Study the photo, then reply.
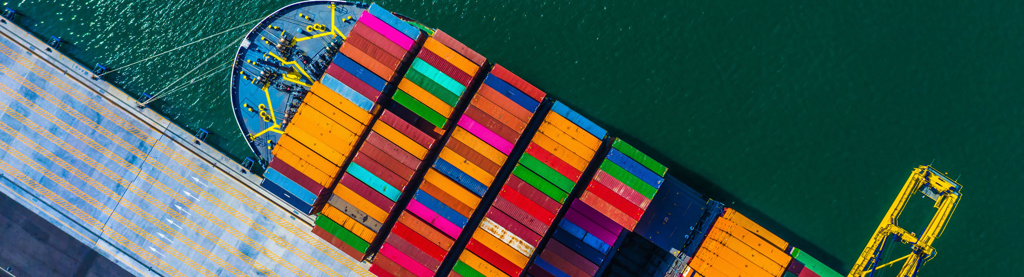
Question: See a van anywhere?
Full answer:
No, the picture doesn't show any van.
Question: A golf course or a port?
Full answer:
This looks like a port.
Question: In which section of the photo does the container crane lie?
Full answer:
The container crane is in the bottom right part of the image.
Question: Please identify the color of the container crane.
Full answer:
In this view, the container crane is yellow.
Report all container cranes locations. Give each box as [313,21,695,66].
[848,161,967,277]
